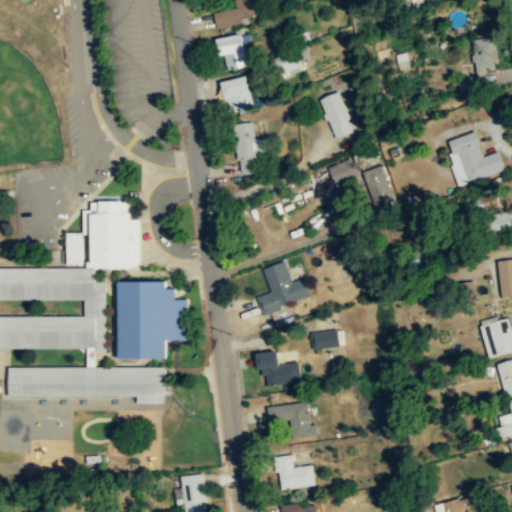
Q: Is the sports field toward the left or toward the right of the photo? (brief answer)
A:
left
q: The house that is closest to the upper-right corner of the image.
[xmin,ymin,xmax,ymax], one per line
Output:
[474,38,502,75]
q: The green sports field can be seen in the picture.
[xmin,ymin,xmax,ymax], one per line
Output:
[0,40,64,166]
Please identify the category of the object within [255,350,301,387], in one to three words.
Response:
house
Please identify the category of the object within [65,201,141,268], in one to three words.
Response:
building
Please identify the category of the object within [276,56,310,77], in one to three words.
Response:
house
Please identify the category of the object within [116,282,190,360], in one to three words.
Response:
building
